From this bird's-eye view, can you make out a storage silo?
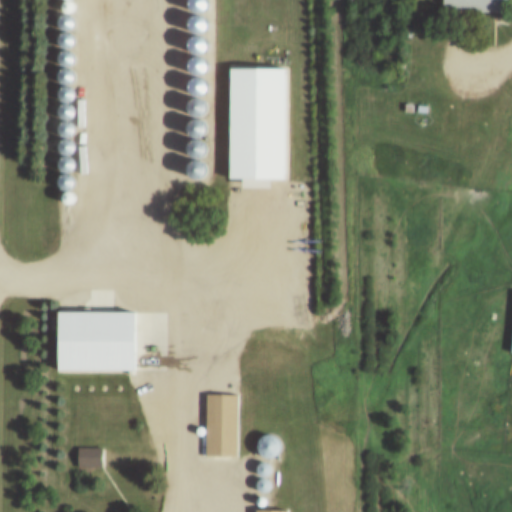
Yes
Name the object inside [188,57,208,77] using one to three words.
silo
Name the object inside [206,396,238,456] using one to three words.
shed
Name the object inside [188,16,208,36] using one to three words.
silo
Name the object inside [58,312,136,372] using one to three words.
shed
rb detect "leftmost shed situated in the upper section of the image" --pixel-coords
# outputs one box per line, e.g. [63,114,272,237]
[230,68,288,180]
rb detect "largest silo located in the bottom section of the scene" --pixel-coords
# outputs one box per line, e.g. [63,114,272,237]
[257,434,284,460]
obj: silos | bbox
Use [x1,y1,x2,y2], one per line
[256,462,274,479]
[188,36,208,56]
[188,57,208,77]
[256,478,274,496]
[58,174,76,191]
[58,104,76,122]
[58,138,76,156]
[188,118,208,139]
[188,140,208,160]
[58,69,76,86]
[58,86,76,104]
[58,34,76,52]
[58,156,76,174]
[188,78,208,98]
[58,16,76,34]
[58,51,76,69]
[188,98,208,118]
[62,190,78,207]
[62,0,79,17]
[257,434,284,460]
[188,0,208,16]
[188,160,208,180]
[188,16,208,36]
[58,121,76,139]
